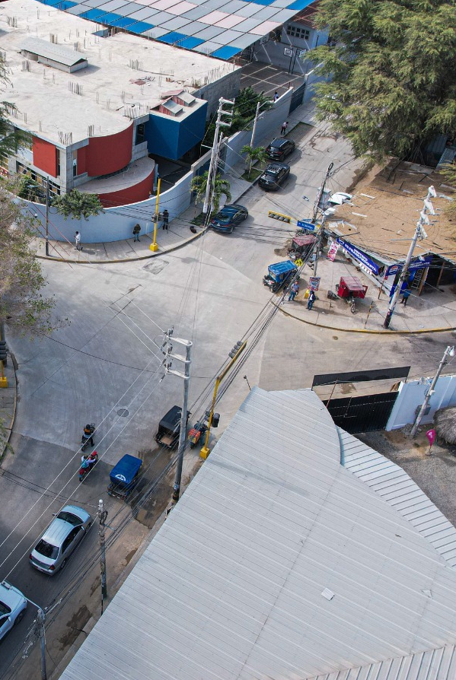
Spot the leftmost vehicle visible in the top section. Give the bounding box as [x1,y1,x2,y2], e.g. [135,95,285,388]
[208,204,250,235]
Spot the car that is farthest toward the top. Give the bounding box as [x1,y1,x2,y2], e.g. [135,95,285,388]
[263,137,298,162]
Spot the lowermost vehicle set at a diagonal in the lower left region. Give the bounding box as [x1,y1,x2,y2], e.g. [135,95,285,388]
[26,506,92,575]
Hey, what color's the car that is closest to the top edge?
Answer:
black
